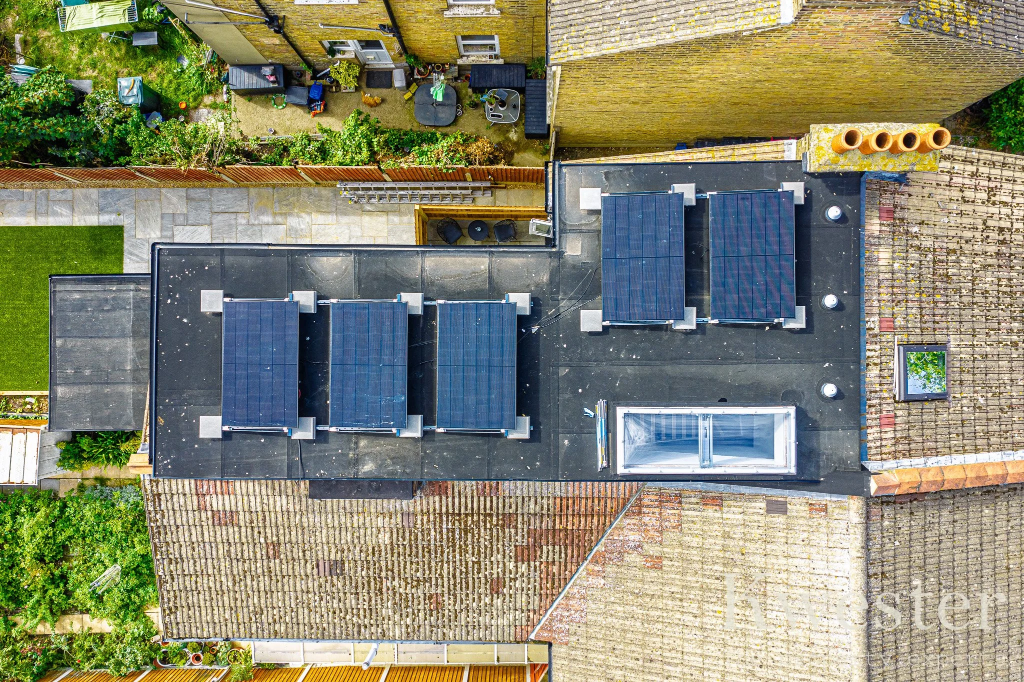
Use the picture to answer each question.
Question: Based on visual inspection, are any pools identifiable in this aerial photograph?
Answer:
No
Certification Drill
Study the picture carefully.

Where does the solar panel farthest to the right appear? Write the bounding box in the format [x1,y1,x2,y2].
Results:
[708,187,796,324]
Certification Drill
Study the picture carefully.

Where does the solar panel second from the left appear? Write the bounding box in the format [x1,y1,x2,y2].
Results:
[329,297,409,433]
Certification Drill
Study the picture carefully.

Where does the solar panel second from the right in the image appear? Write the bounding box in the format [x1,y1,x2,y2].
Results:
[601,188,685,326]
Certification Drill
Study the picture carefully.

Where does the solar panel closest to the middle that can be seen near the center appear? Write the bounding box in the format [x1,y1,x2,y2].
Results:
[436,298,518,434]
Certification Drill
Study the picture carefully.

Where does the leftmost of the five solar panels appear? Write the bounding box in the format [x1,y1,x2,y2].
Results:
[221,296,302,433]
